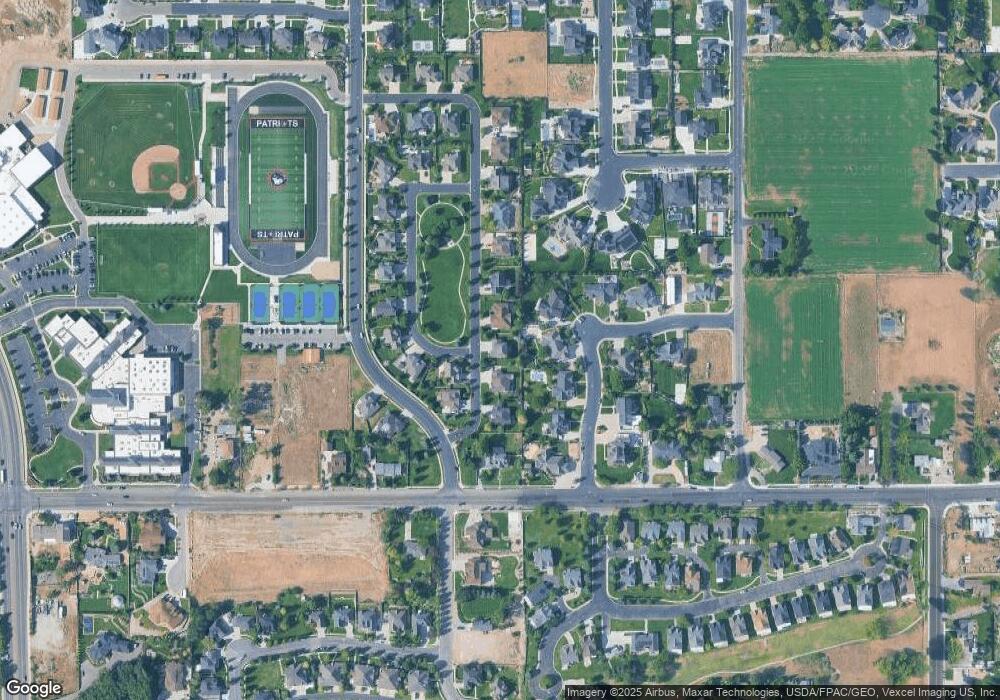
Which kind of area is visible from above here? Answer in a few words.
residential area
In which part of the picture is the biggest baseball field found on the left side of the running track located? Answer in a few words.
top left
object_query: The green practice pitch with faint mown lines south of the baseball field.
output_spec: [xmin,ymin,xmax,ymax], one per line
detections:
[97,224,210,304]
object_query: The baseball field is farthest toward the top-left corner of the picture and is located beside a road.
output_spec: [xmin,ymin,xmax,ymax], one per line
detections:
[76,83,198,206]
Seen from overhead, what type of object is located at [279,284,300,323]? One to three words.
tennis court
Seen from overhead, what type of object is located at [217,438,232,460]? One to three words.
shed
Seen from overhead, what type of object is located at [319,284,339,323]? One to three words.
tennis court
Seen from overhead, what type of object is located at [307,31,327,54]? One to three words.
house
